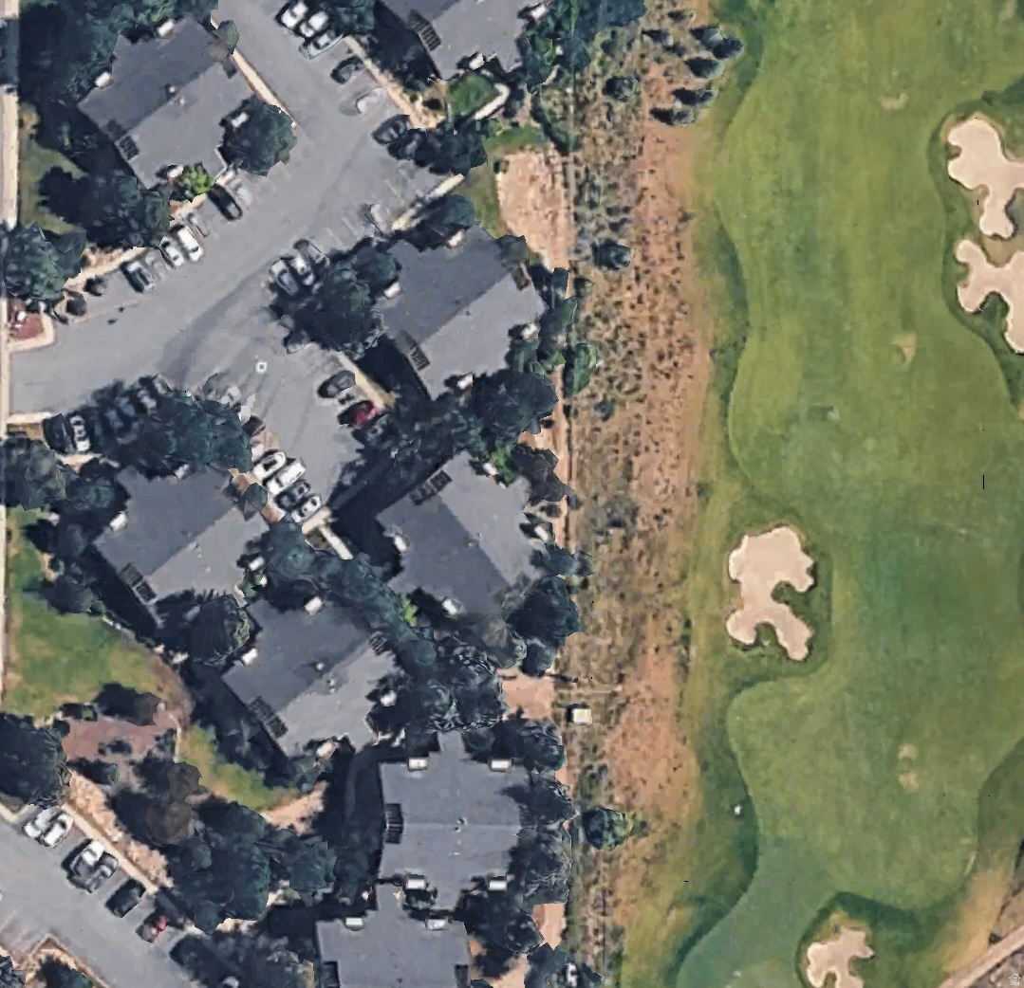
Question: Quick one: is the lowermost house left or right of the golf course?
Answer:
on the left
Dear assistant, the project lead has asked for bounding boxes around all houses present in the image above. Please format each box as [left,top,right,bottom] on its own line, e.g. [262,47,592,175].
[365,214,557,404]
[74,7,269,192]
[223,584,417,771]
[316,887,472,988]
[376,440,565,635]
[378,0,557,88]
[90,451,285,637]
[379,729,535,913]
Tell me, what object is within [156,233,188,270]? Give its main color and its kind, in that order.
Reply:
white car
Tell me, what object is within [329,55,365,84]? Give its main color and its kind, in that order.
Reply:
gray car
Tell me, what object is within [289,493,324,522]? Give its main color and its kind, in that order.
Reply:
white car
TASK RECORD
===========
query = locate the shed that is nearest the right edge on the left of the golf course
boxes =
[570,706,589,724]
